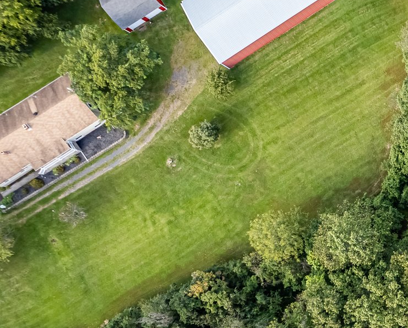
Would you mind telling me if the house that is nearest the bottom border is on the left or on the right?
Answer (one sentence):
You can find the house that is nearest the bottom border on the left side of the picture.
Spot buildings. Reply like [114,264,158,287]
[0,73,104,185]
[181,0,336,68]
[100,0,167,34]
